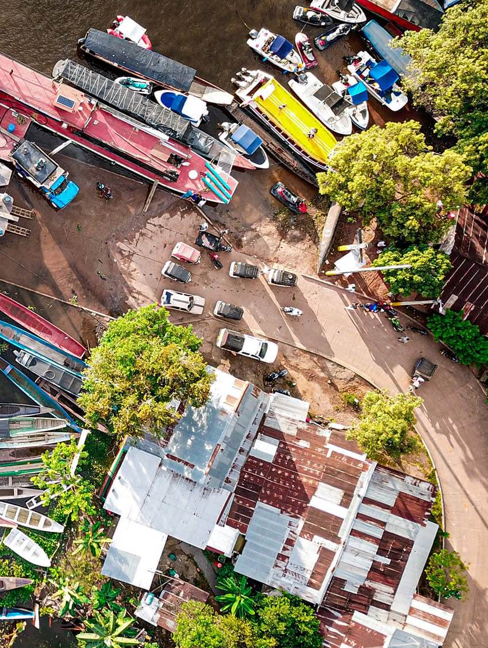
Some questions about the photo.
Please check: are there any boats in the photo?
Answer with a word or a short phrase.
Yes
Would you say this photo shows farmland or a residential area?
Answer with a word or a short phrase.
residential area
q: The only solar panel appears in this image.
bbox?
[54,91,78,111]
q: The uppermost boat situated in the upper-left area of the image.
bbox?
[109,10,152,43]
